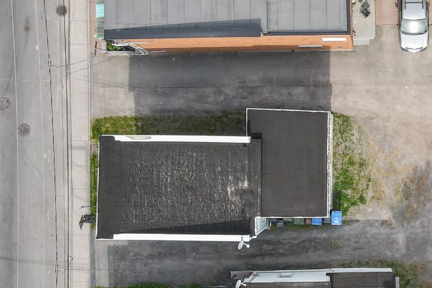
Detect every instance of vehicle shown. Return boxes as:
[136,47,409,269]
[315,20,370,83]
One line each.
[396,0,431,51]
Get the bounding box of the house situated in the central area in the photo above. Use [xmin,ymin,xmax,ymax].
[97,105,334,239]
